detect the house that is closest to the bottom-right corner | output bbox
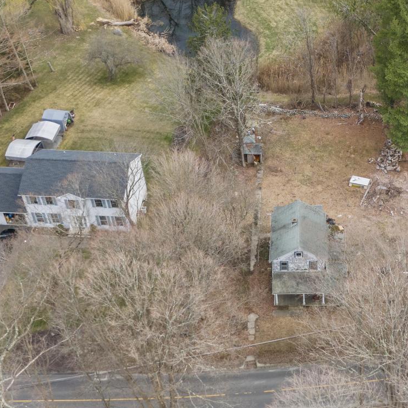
[269,194,347,315]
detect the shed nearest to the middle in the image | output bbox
[242,139,264,164]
